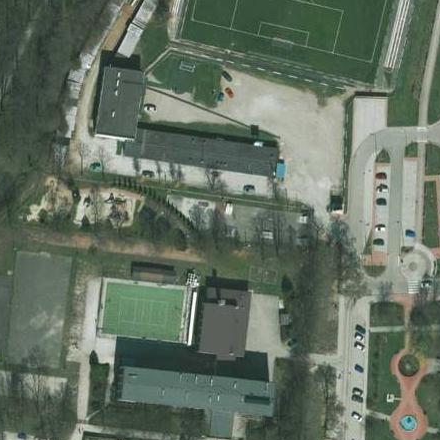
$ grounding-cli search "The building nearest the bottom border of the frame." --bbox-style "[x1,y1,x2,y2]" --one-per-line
[119,367,275,416]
